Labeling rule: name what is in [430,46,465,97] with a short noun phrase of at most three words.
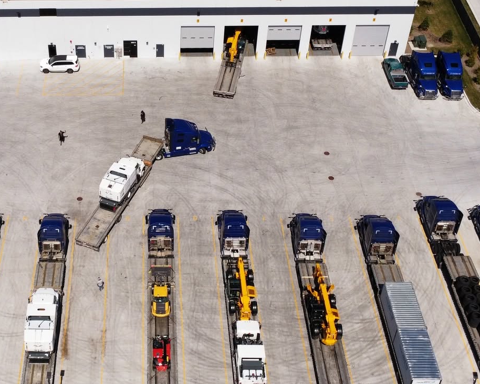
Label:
truck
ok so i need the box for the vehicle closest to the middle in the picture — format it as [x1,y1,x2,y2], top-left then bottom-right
[217,209,252,259]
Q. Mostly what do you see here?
paved ground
